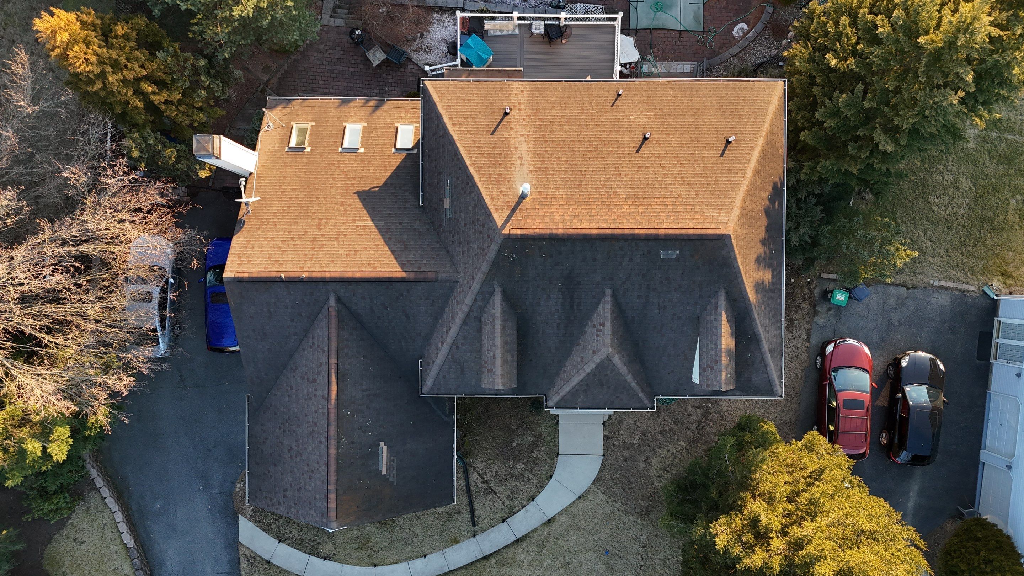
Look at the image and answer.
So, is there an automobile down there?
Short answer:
Yes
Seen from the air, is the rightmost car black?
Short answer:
Yes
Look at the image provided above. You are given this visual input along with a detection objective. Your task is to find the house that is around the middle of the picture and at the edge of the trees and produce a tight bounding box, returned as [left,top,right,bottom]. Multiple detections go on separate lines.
[191,65,787,530]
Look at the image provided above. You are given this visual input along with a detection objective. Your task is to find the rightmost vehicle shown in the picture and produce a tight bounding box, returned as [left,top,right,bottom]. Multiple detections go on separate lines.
[878,346,954,471]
